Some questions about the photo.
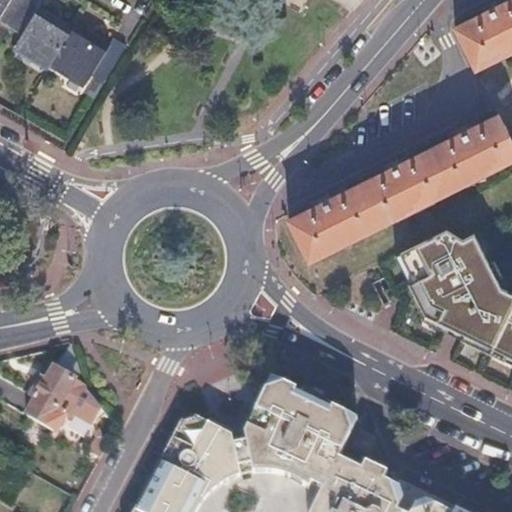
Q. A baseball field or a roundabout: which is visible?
roundabout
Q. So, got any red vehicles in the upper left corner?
No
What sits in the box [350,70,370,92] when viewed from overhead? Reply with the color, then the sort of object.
gray car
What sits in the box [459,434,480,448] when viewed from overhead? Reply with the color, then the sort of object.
white car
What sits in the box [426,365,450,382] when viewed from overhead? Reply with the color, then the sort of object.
gray car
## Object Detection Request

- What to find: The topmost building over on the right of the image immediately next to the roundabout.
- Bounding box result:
[289,114,512,265]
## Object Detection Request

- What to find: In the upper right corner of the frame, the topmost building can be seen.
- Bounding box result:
[453,0,512,74]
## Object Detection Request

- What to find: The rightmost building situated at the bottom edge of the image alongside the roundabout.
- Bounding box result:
[243,376,472,512]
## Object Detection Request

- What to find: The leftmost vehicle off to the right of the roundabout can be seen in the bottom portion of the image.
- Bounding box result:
[282,328,302,344]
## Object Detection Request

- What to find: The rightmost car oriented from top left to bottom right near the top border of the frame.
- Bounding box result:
[130,0,148,18]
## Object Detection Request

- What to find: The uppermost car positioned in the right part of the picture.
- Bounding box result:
[348,34,366,54]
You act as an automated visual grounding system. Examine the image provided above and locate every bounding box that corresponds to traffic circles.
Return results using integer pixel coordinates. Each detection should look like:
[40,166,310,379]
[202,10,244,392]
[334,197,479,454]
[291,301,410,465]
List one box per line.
[84,169,268,351]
